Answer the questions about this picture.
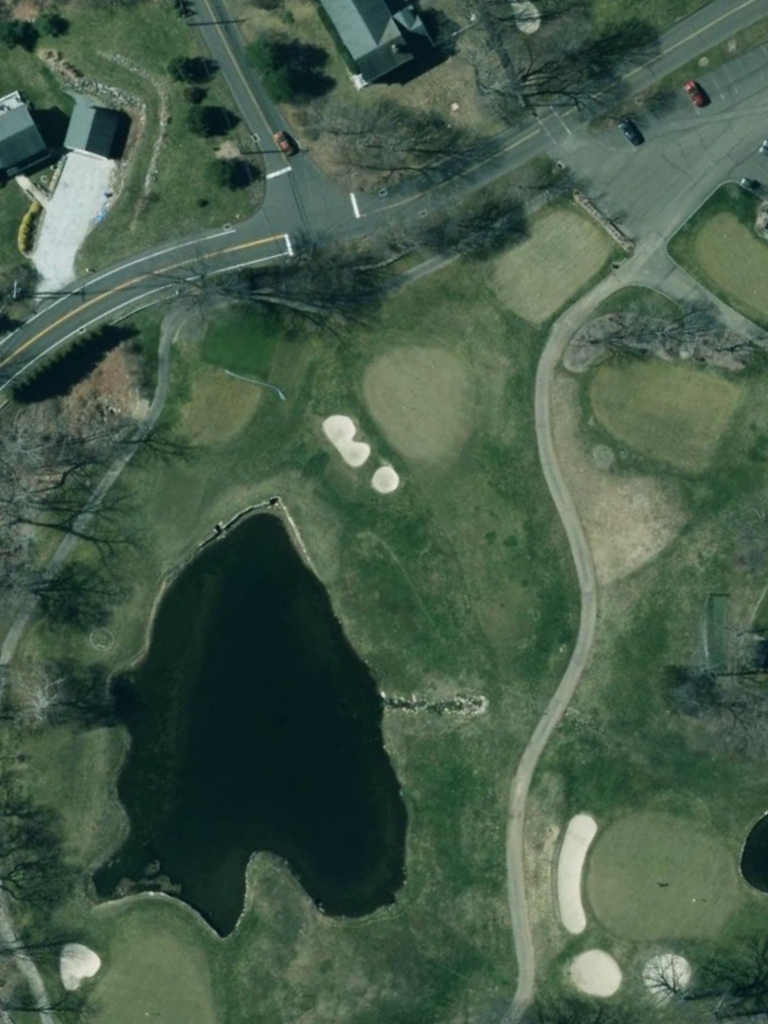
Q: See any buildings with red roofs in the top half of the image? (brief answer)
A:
No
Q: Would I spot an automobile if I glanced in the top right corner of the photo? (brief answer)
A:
Yes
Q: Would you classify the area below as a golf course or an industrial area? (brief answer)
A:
golf course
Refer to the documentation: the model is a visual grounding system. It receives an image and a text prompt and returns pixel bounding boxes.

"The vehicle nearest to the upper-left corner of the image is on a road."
[273,128,291,152]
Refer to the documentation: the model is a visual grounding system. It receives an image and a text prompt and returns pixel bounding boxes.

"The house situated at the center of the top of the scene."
[324,0,435,79]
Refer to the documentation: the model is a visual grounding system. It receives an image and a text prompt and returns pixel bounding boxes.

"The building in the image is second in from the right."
[64,90,116,162]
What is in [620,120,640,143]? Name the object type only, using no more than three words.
car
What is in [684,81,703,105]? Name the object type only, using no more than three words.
car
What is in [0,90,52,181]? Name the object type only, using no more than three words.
house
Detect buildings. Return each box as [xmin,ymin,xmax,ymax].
[0,90,52,181]
[64,90,116,162]
[324,0,435,79]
